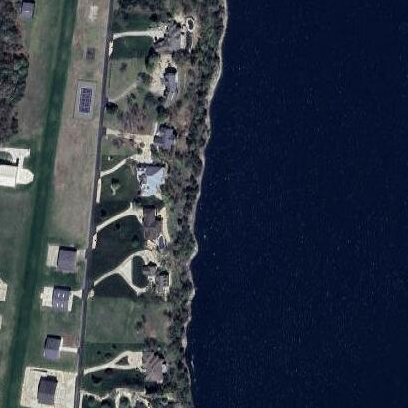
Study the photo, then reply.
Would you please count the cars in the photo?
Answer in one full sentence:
There are no cars in the image.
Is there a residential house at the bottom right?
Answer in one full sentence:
No, I see no residential house at the bottom right.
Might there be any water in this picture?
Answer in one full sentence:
Yes, there's water in this view.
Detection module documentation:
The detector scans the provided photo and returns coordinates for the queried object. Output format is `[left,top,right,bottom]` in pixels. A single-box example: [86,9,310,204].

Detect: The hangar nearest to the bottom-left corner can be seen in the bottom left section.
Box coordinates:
[37,379,57,404]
